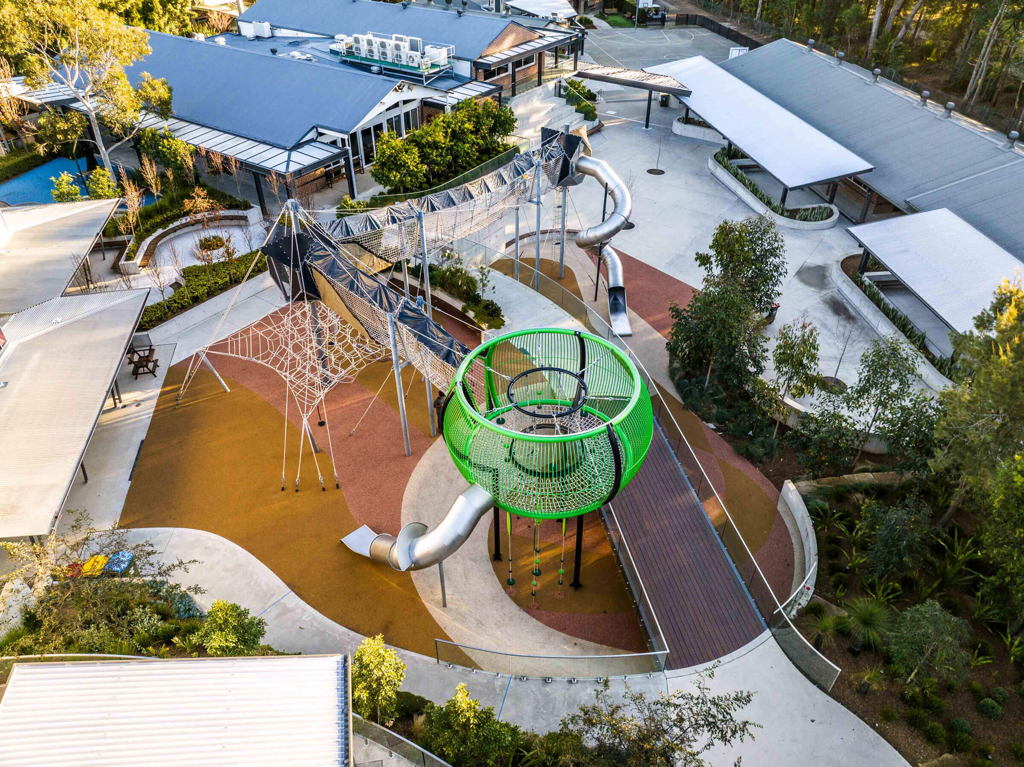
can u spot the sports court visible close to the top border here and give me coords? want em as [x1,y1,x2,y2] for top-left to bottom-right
[582,27,753,99]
